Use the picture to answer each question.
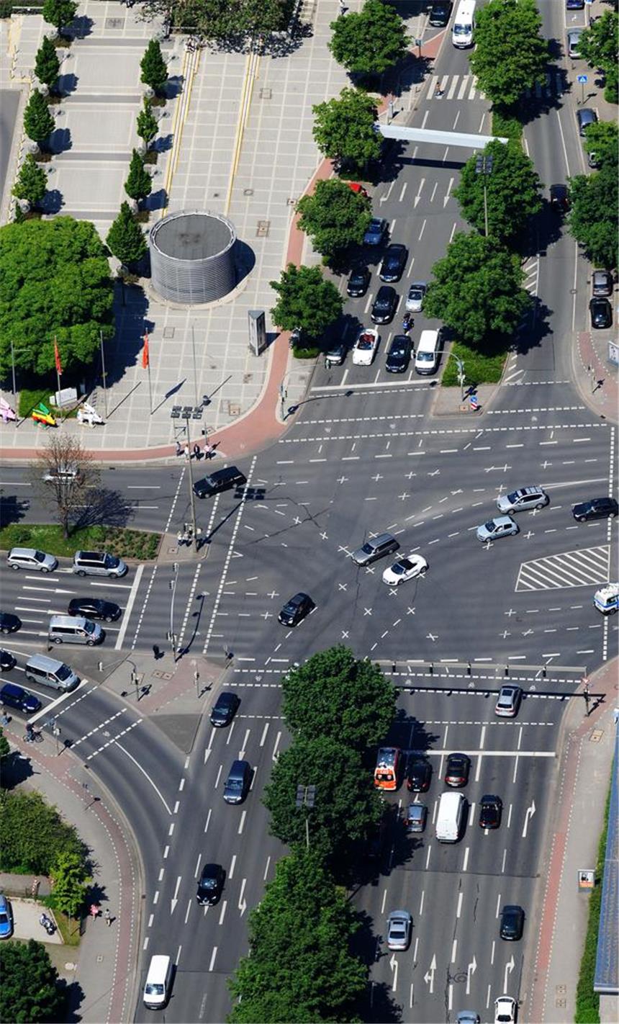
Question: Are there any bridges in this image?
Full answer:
No, I can see no bridge in this picture.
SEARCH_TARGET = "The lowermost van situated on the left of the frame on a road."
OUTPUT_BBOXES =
[142,953,173,1005]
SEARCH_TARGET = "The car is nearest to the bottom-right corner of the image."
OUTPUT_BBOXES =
[493,996,519,1024]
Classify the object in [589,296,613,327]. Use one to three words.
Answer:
car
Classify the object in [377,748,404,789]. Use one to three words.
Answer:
vehicle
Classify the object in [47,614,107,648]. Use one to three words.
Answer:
van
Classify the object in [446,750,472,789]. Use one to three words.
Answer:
car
